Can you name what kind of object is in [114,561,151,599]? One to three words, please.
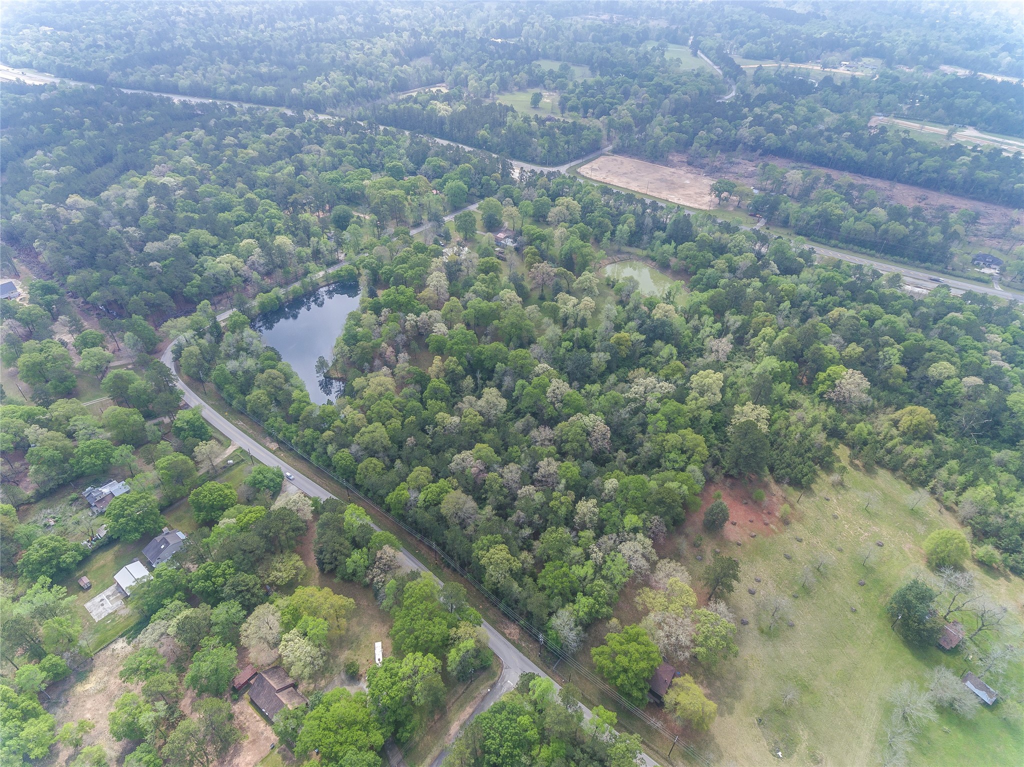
barn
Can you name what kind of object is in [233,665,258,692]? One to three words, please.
shed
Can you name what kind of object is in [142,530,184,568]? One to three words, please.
house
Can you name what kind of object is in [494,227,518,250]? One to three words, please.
house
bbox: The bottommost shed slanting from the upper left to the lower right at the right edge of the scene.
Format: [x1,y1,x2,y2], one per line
[962,671,998,707]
